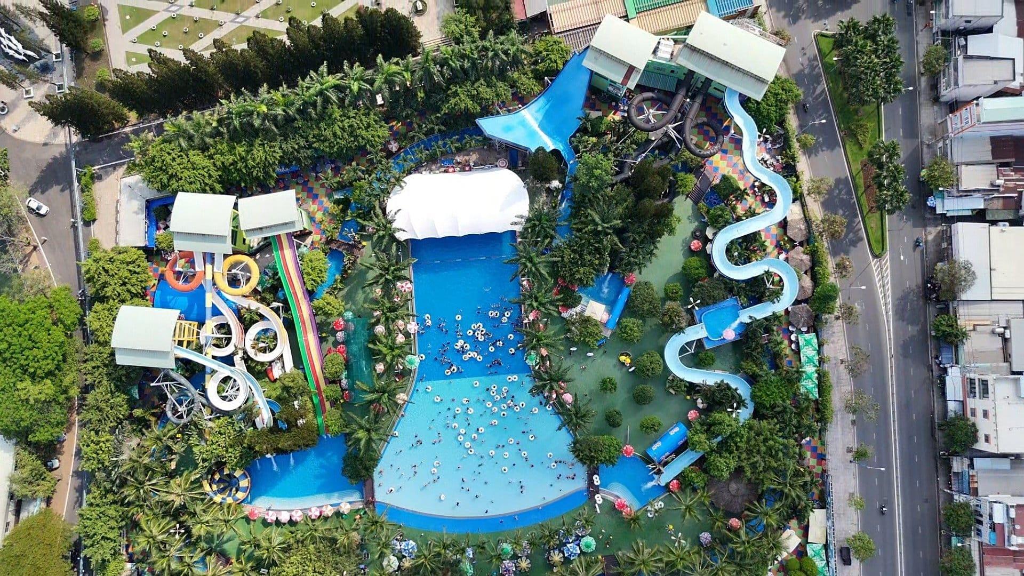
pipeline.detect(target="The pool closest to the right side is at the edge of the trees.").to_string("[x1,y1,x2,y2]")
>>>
[692,296,750,350]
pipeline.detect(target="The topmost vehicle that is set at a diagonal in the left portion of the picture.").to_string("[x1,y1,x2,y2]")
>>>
[24,197,46,214]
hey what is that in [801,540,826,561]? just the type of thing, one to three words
tent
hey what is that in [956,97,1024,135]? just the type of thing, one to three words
house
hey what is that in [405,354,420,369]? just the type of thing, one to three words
umbrella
